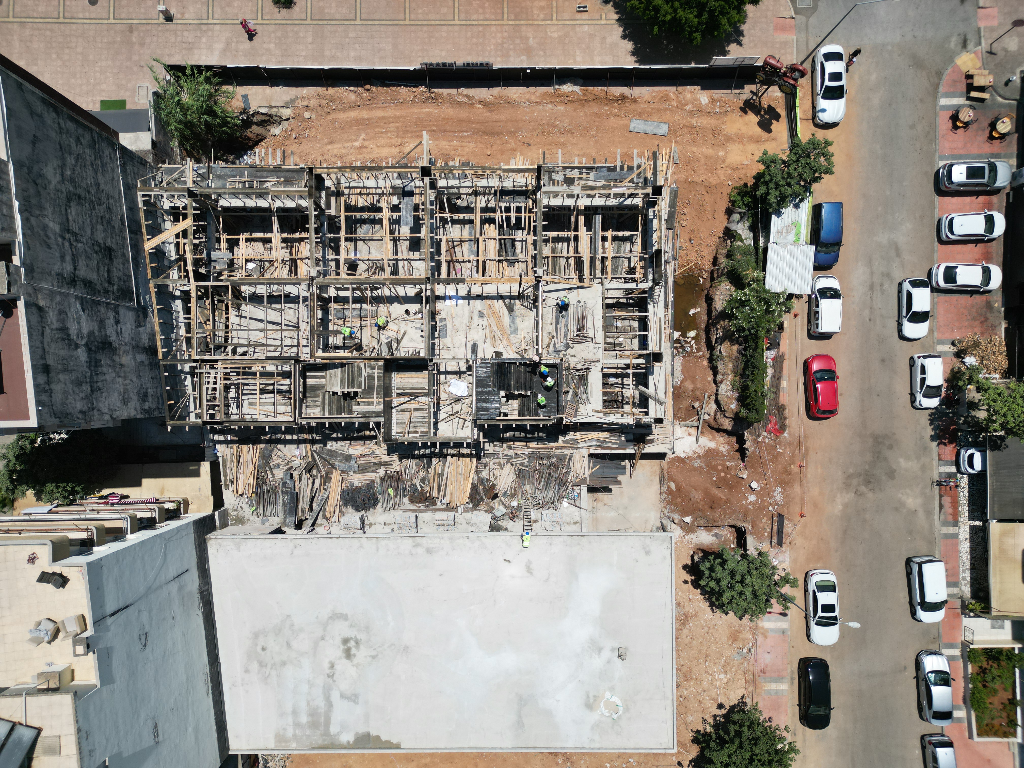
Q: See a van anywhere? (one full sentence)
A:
Yes, a van is visible in the scene.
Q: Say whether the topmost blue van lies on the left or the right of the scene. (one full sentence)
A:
It is on the right.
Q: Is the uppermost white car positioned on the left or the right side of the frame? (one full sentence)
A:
The uppermost white car is on the right side of the image.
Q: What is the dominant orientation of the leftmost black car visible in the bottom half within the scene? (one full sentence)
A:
The leftmost black car visible in the bottom half is oriented from top to bottom.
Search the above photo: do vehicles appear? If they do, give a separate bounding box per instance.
[934,207,1005,244]
[918,728,958,768]
[894,278,935,341]
[802,354,841,418]
[945,445,986,476]
[811,200,848,270]
[808,44,850,129]
[905,353,946,410]
[807,275,848,339]
[795,653,836,728]
[934,156,1010,195]
[801,567,843,644]
[753,56,809,102]
[905,553,950,622]
[941,381,961,410]
[912,646,956,726]
[926,258,1000,294]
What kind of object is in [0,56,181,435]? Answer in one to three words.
building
